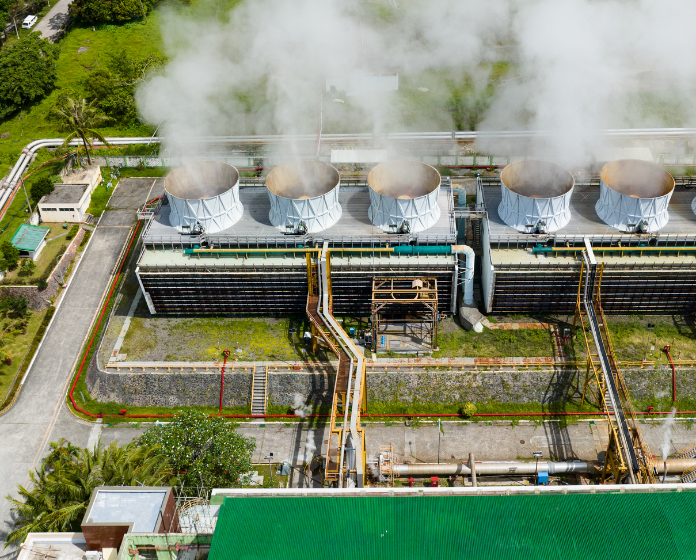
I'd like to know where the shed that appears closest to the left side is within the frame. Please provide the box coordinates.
[10,223,52,265]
